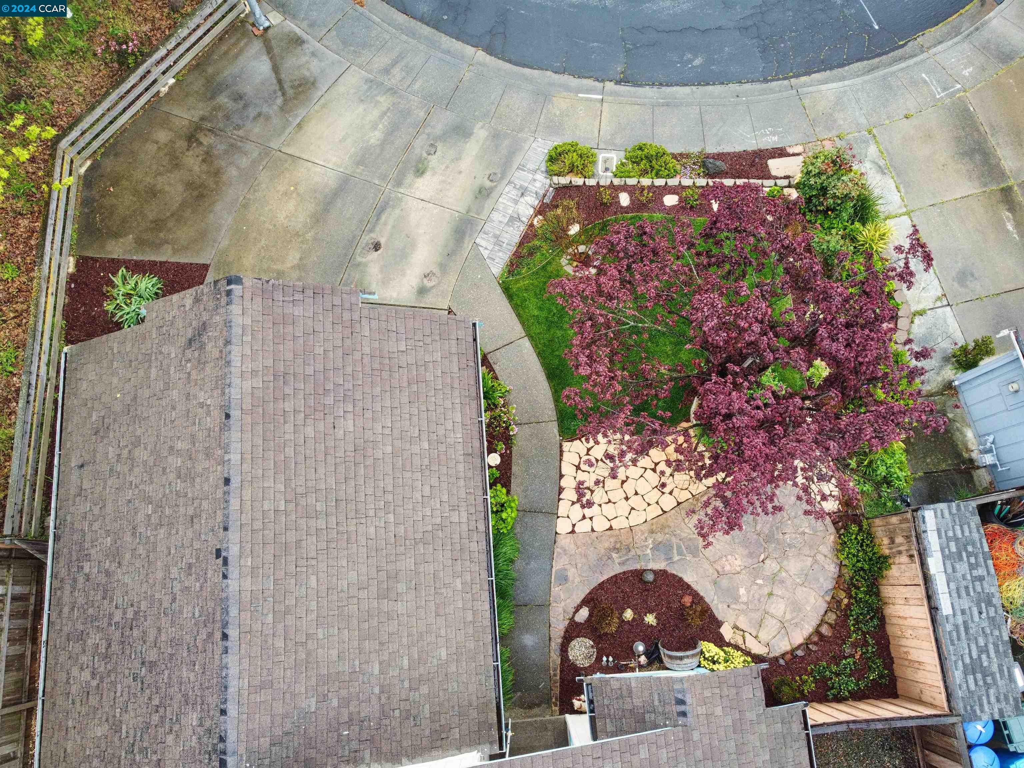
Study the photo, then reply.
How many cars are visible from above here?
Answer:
zero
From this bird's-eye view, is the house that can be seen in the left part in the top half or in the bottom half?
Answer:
bottom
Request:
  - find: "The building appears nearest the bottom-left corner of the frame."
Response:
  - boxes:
[28,273,509,768]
